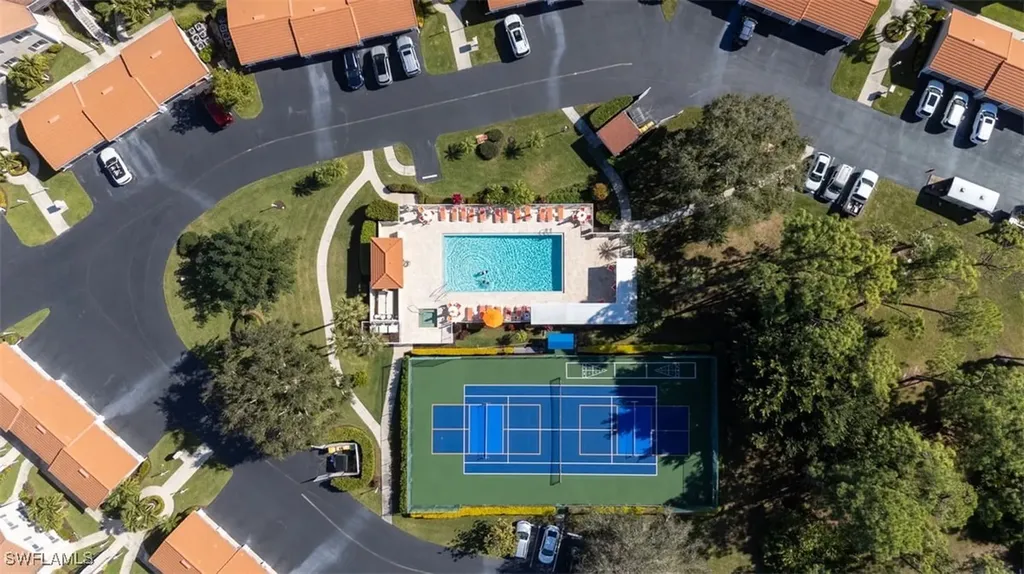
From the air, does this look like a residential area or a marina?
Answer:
residential area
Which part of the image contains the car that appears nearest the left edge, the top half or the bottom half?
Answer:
top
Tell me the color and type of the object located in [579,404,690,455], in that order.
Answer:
blue sports court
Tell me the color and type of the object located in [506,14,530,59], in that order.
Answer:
white car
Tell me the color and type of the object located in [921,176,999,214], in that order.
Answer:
white trailer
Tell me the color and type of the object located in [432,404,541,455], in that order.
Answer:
blue sports court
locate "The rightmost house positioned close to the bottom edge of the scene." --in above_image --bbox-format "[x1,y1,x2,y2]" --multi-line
[151,508,287,574]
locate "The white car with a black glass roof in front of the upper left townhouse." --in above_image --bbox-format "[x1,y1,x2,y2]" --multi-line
[103,147,133,186]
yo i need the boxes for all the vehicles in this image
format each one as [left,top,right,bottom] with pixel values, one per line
[398,36,421,78]
[803,153,829,193]
[734,13,758,49]
[940,91,968,131]
[914,80,943,120]
[344,49,364,90]
[513,517,532,561]
[199,92,234,127]
[969,103,997,145]
[822,163,854,203]
[103,147,133,186]
[506,14,530,59]
[539,522,560,563]
[372,46,393,87]
[843,168,879,219]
